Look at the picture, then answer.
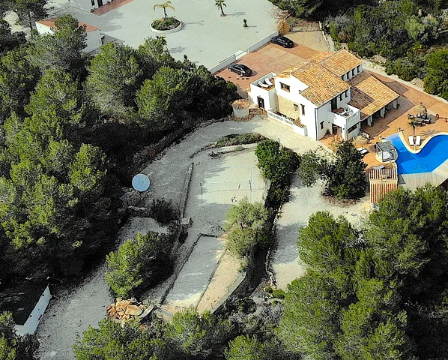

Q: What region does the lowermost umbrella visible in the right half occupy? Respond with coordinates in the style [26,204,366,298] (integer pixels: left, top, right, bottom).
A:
[354,128,370,144]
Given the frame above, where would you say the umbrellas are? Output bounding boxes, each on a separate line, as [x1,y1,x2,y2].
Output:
[354,128,370,144]
[413,101,430,117]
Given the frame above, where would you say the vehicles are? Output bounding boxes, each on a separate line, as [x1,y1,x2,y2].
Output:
[226,61,251,77]
[270,34,295,48]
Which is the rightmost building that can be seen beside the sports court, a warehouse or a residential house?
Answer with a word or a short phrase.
residential house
